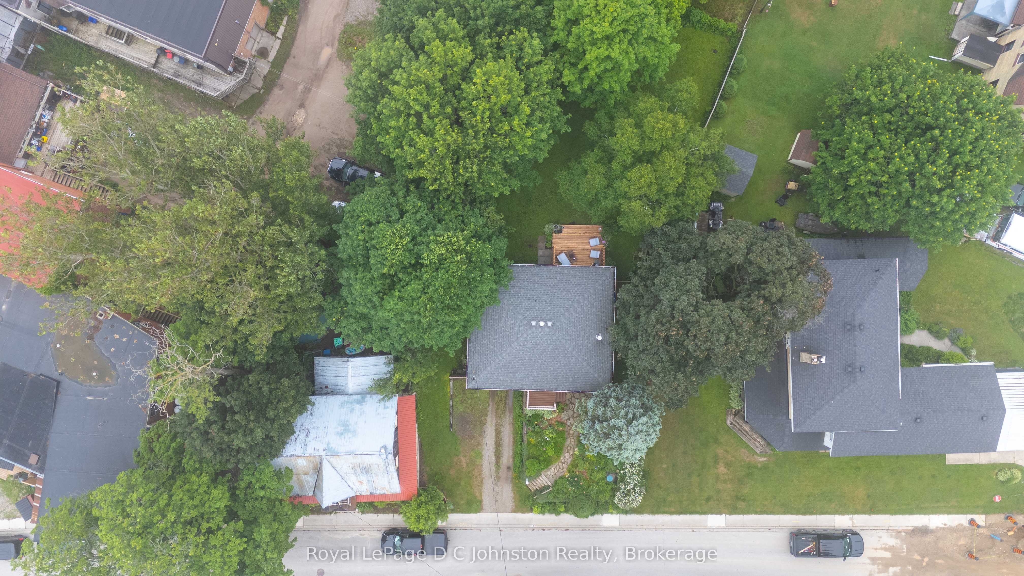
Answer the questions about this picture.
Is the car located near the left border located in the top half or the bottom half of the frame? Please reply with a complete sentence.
The car located near the left border sits in the bottom half of the picture.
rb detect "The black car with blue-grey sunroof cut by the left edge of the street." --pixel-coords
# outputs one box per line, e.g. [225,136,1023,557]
[0,530,29,559]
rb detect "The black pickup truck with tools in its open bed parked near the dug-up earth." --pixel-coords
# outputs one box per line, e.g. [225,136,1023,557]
[787,526,865,559]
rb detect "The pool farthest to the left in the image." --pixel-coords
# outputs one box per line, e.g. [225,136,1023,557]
[276,305,329,352]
